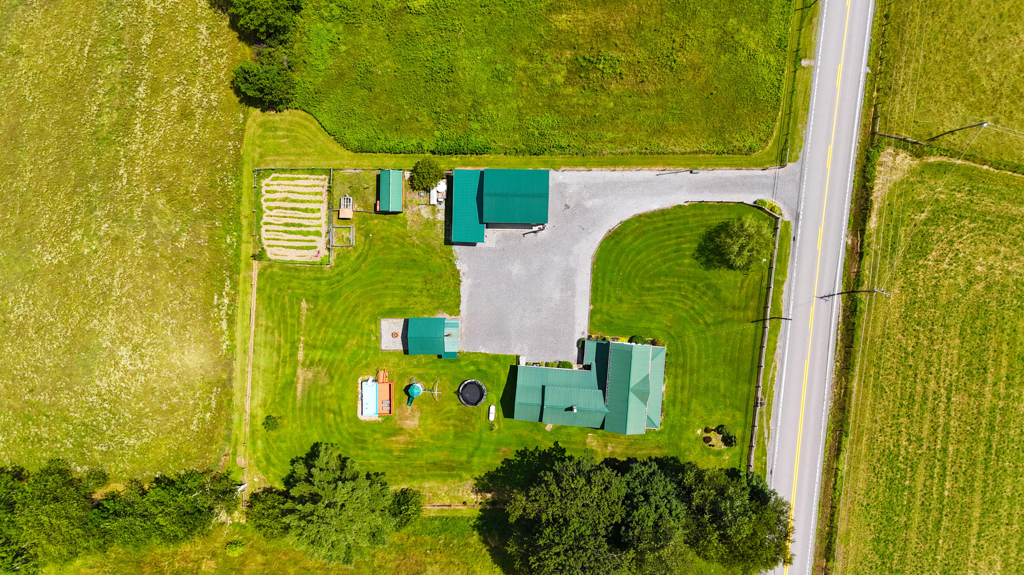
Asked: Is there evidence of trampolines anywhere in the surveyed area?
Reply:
Yes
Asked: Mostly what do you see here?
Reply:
grass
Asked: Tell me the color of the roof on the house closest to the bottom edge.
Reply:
green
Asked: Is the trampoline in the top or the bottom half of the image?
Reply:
bottom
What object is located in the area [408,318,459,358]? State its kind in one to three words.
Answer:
building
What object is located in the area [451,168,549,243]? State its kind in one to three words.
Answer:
barn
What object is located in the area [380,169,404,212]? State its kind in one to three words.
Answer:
shed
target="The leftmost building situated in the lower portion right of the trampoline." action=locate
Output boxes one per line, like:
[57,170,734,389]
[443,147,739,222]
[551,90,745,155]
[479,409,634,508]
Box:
[514,339,667,435]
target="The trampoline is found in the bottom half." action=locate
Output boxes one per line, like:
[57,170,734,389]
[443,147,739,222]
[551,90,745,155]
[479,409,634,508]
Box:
[458,378,488,407]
